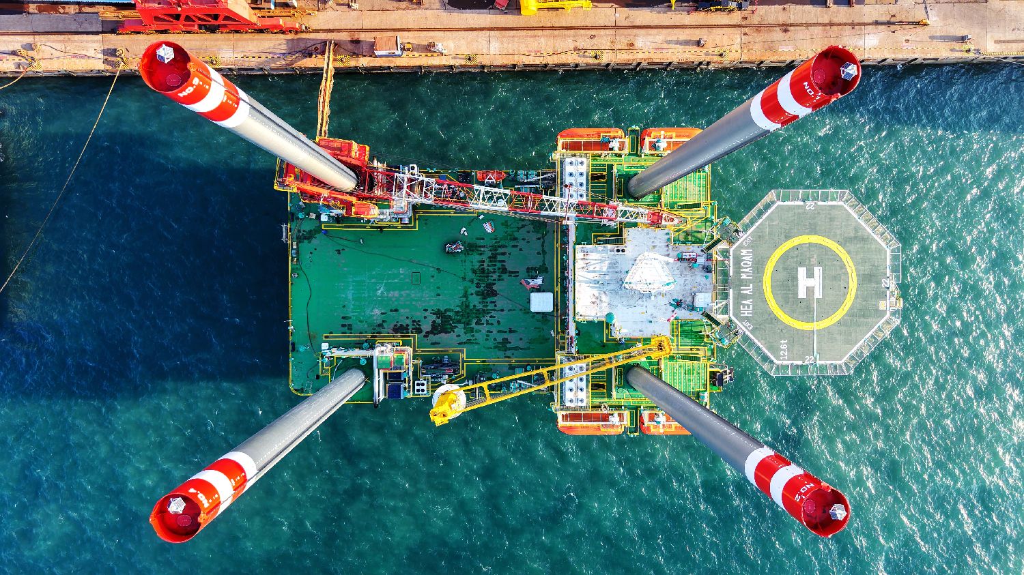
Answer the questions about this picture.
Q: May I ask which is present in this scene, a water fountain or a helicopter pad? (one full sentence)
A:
There is a helicopter pad in the scene.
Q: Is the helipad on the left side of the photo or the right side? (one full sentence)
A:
You can find the helipad on the right side of the picture.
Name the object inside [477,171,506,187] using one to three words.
boat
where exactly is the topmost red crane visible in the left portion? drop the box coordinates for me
[121,0,309,36]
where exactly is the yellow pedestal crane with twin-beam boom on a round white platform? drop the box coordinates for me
[430,337,672,426]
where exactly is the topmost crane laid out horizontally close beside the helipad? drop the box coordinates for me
[274,138,685,224]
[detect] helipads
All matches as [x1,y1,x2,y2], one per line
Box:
[702,189,902,376]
